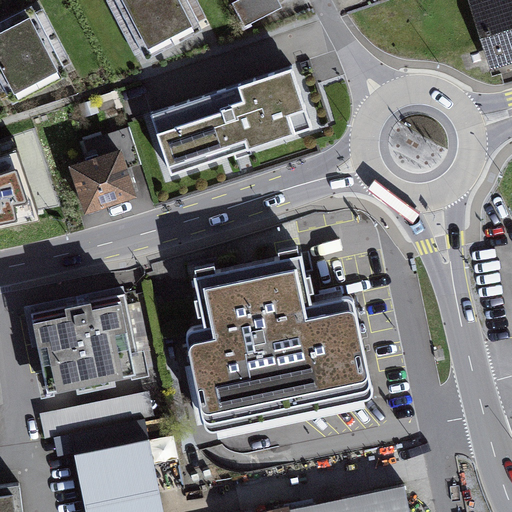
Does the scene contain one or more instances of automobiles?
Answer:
Yes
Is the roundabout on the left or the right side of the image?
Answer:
right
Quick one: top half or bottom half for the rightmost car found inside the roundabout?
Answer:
top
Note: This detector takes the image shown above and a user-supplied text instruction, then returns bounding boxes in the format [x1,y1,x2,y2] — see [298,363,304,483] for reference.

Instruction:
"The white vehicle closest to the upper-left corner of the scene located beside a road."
[110,203,132,216]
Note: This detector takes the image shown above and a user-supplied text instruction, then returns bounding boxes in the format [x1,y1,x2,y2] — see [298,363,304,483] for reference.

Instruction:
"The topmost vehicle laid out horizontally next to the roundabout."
[329,178,354,190]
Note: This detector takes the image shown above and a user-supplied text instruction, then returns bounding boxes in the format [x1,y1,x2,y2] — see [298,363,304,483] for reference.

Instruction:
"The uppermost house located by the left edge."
[0,6,70,100]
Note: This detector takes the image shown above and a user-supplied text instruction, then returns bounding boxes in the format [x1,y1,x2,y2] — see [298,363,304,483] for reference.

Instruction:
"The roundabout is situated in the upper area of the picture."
[349,75,488,214]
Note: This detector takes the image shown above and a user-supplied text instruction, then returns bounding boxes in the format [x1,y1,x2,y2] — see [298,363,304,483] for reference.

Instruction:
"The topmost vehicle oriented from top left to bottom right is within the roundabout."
[431,90,454,110]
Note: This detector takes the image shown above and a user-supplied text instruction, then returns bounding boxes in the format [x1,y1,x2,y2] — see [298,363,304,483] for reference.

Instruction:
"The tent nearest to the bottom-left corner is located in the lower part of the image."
[150,436,179,464]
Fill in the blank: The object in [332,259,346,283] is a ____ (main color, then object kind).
white car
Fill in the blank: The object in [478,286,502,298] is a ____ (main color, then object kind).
white vehicle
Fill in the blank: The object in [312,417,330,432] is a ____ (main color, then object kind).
white car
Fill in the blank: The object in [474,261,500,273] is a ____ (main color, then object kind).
white vehicle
